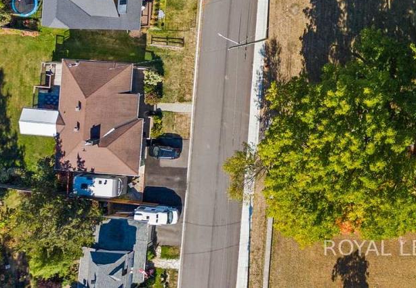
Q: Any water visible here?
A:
No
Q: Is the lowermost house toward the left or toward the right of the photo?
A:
left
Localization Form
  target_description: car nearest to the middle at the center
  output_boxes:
[150,144,184,160]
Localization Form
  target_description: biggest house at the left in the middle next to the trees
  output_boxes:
[55,58,150,178]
